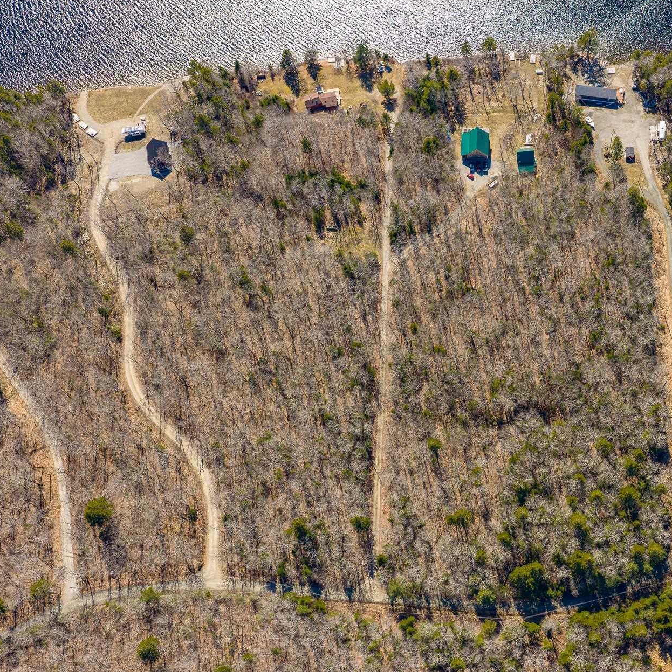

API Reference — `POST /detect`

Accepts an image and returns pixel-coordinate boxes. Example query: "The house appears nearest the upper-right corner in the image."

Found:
[575,85,625,106]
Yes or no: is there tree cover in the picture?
Yes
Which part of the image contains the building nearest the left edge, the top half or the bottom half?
top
